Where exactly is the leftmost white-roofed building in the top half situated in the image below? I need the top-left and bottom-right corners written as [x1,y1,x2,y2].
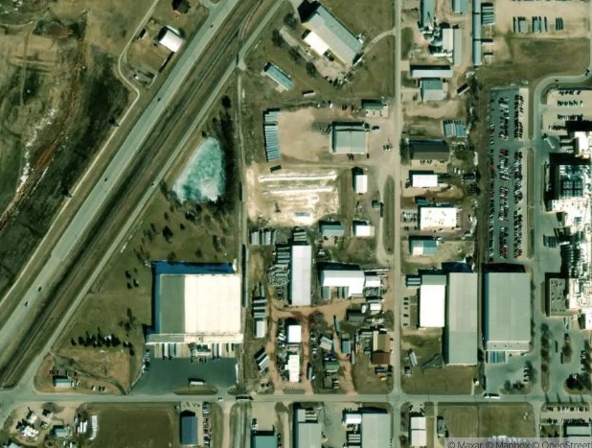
[157,28,183,52]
